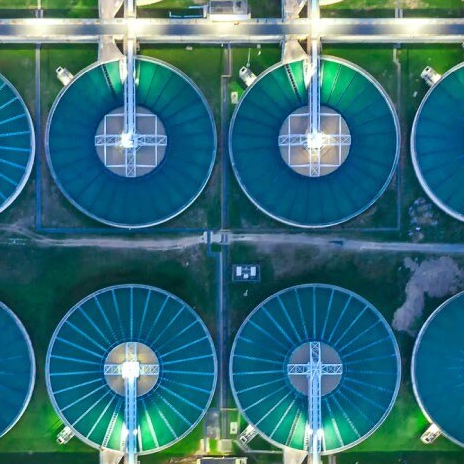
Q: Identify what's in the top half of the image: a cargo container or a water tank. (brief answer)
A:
water tank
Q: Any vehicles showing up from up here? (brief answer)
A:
No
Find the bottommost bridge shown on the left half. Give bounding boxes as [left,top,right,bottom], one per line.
[123,377,148,464]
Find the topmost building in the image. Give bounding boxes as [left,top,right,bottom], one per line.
[206,0,251,19]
